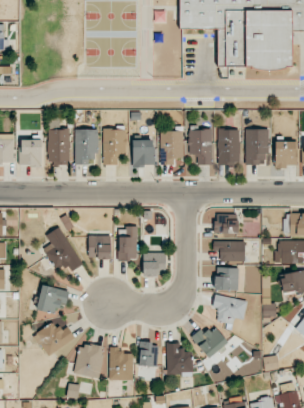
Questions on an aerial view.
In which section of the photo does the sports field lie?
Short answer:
top left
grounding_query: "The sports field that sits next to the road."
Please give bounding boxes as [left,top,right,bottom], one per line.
[22,0,83,86]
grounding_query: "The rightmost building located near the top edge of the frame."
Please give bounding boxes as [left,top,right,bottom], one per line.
[180,0,304,70]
